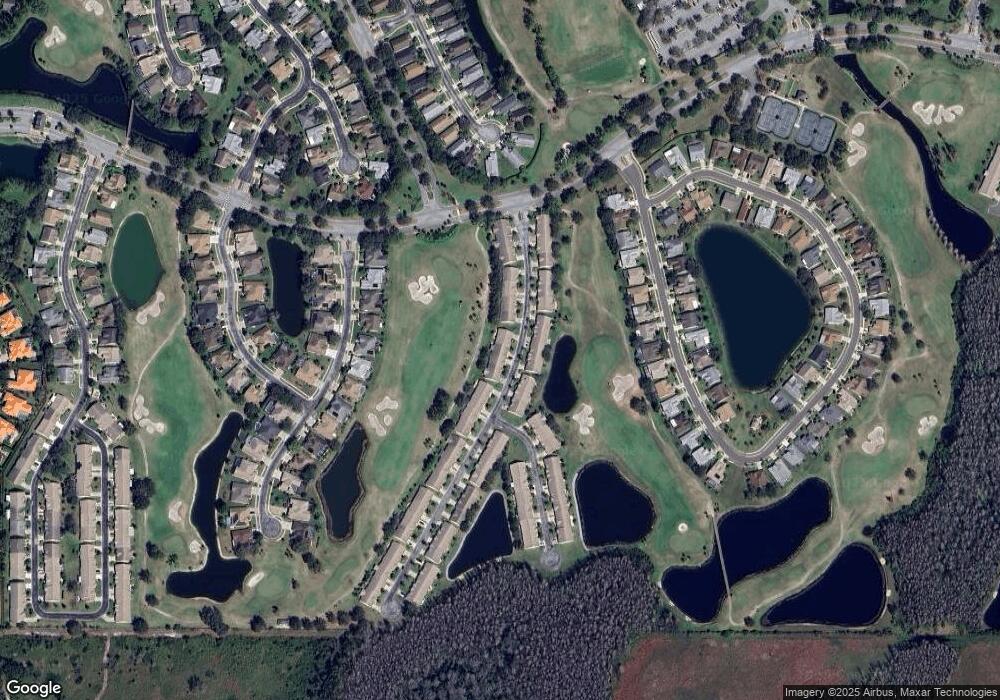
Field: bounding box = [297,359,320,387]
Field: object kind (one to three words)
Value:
house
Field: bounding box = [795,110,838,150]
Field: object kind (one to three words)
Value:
tennis court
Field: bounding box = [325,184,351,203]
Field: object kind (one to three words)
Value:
house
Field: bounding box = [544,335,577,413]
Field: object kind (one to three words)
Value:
pond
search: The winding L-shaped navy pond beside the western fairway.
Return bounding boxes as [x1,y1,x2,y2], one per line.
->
[167,412,252,601]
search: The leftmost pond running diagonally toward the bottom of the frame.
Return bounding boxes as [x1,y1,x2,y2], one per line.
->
[448,492,514,579]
